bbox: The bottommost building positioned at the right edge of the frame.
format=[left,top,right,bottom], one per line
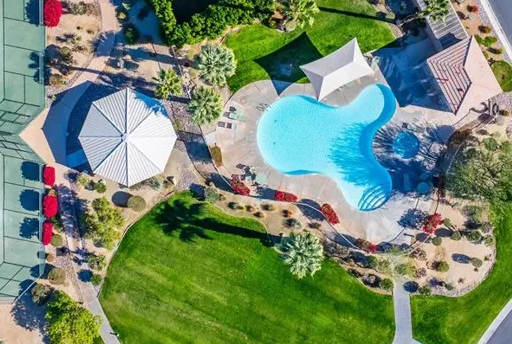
[423,35,502,114]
